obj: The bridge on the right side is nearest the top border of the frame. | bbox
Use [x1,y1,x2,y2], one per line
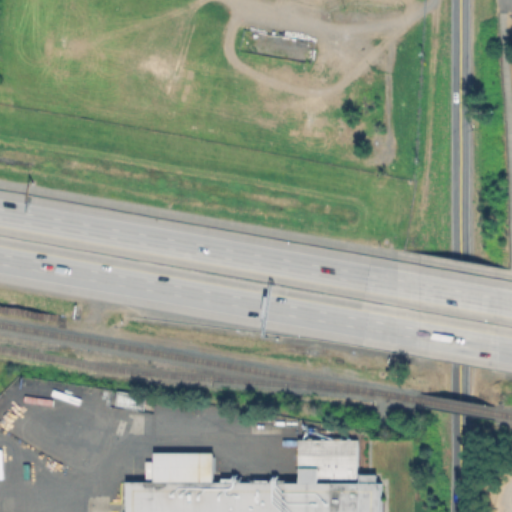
[386,250,512,374]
